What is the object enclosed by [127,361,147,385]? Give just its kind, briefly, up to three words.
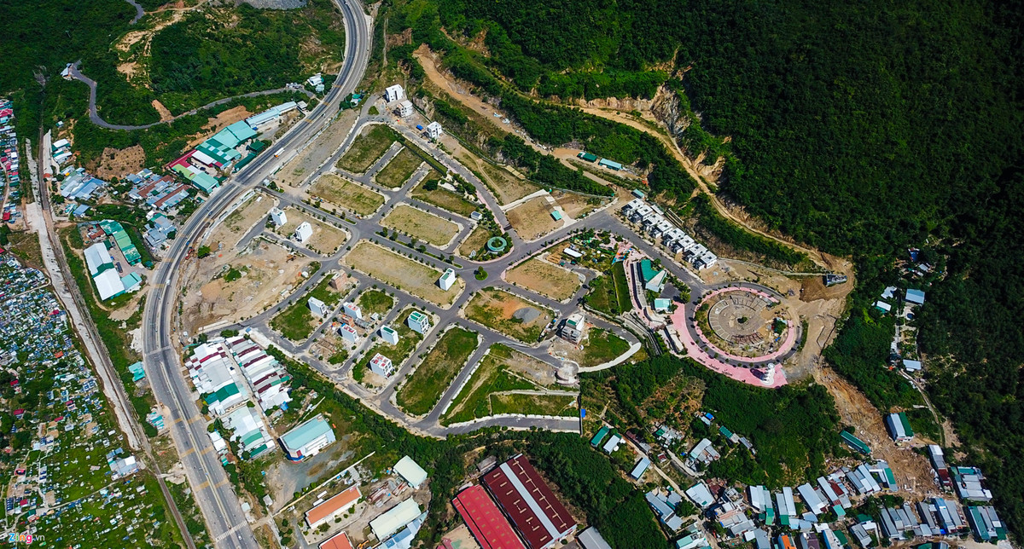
building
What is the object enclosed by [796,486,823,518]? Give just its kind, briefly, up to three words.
house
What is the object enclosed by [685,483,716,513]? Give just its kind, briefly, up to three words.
house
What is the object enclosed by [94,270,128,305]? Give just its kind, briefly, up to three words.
building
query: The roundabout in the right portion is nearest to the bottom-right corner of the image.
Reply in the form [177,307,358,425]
[683,281,805,369]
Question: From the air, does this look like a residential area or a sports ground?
residential area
